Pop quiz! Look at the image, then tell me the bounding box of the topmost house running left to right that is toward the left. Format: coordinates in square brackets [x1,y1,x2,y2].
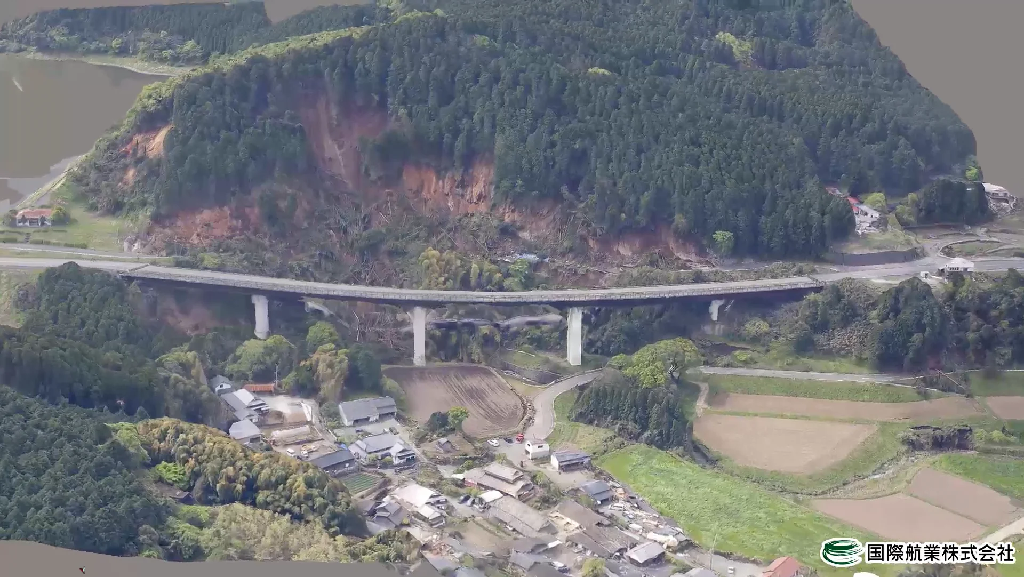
[11,208,57,227]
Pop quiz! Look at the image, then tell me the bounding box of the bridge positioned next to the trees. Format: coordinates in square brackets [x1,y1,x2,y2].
[117,261,826,368]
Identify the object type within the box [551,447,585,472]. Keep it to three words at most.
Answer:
building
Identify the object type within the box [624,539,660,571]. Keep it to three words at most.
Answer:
house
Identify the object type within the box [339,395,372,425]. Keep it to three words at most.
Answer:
barn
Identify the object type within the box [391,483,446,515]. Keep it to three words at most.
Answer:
house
